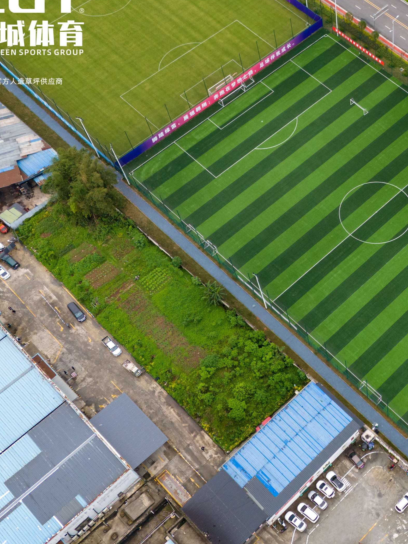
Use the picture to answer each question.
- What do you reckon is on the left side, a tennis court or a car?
car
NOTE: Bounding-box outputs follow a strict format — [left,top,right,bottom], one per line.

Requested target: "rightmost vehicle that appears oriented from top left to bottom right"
[345,448,365,471]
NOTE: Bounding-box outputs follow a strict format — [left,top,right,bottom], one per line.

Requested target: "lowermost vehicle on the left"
[123,358,142,377]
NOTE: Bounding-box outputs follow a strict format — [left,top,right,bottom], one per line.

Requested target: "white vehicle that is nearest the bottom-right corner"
[393,492,408,514]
